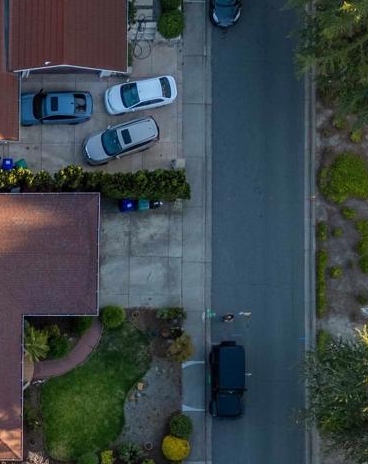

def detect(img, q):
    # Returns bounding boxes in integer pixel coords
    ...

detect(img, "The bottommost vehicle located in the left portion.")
[84,116,163,165]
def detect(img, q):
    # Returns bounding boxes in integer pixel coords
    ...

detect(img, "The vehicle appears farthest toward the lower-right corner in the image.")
[209,342,248,417]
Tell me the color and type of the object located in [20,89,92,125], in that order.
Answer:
blue car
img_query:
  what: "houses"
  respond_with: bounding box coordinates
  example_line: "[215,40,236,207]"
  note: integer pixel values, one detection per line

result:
[0,0,129,141]
[0,192,101,461]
